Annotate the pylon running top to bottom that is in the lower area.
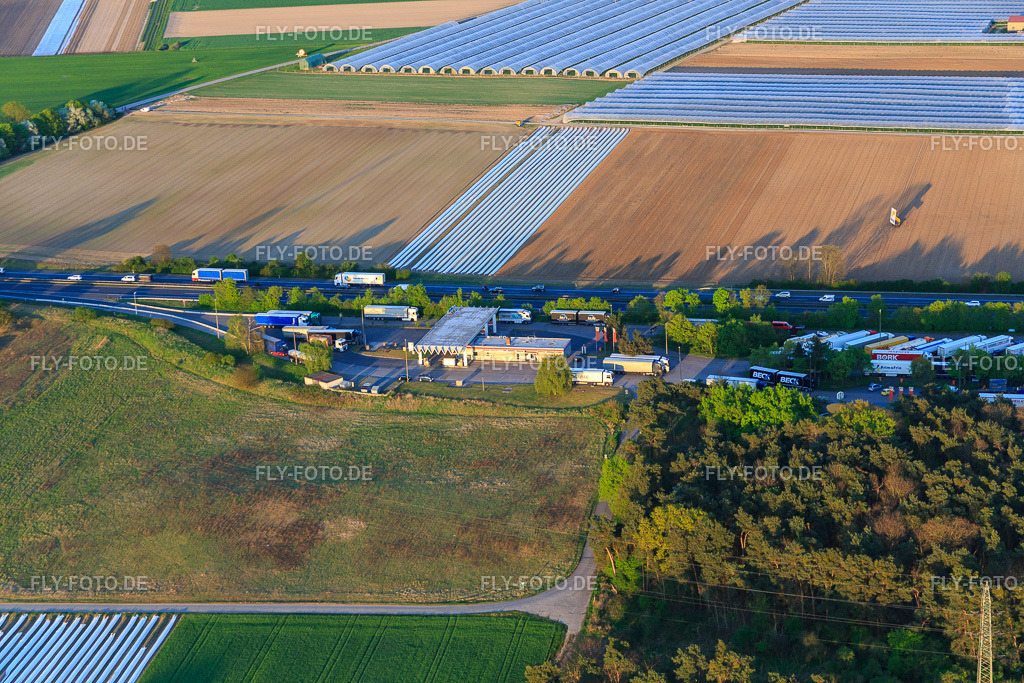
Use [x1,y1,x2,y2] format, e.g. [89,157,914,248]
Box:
[964,580,1009,683]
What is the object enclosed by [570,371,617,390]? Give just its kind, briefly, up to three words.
vehicle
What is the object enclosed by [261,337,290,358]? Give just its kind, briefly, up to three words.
truck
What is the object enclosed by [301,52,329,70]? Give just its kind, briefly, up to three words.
barn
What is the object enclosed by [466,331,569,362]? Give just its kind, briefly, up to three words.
building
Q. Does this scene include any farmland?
Yes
